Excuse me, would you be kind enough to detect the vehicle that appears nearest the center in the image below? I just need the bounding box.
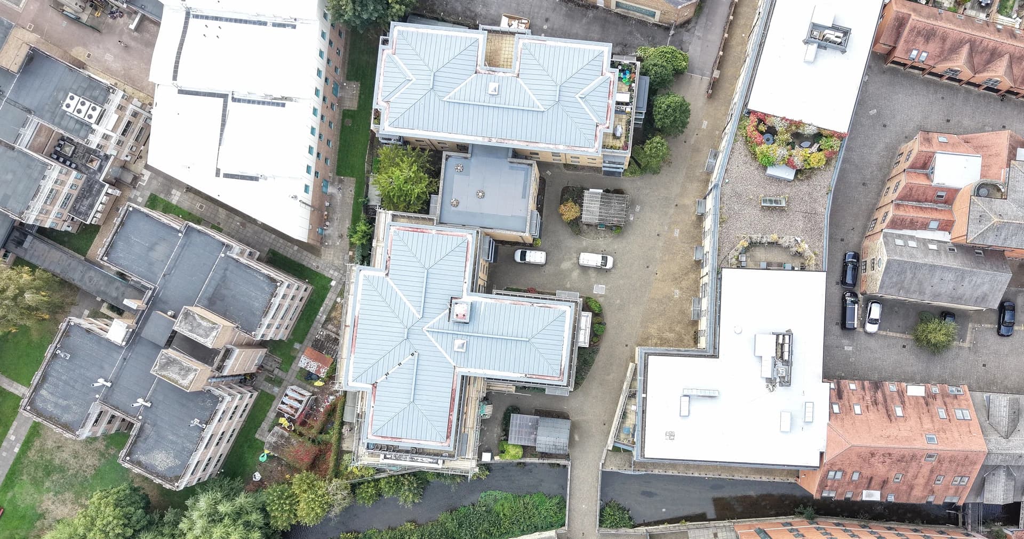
[513,248,547,264]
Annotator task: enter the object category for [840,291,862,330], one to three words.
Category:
vehicle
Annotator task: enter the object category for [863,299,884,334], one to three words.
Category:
car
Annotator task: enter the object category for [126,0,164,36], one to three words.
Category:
building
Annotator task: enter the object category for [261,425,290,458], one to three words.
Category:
shed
